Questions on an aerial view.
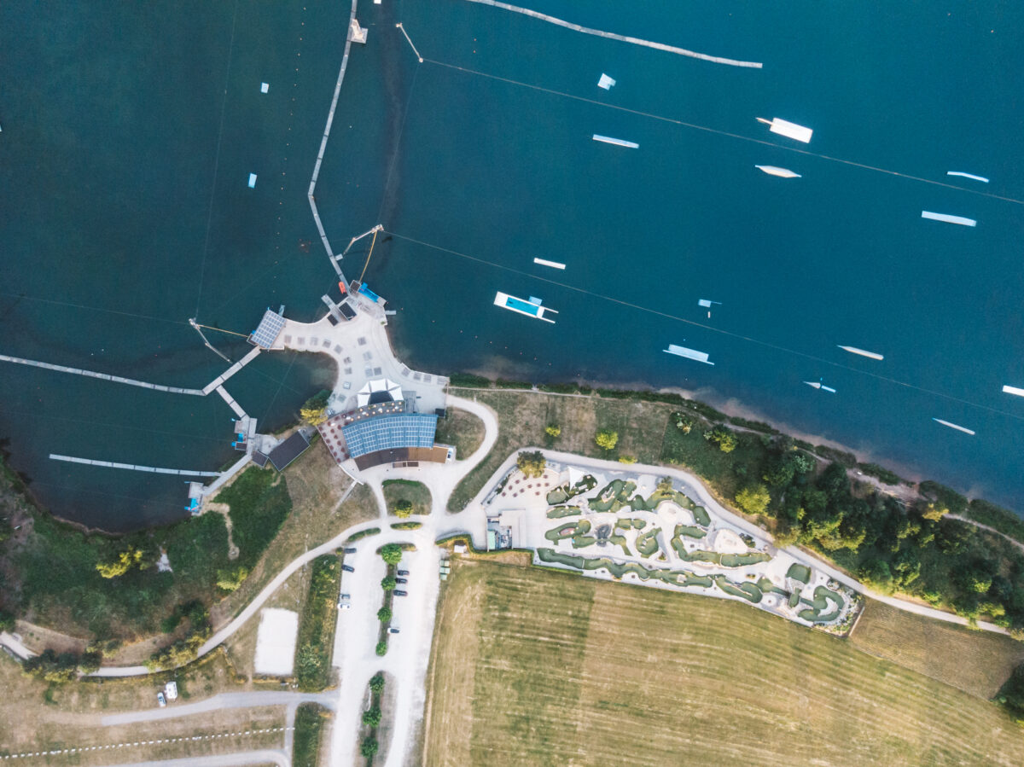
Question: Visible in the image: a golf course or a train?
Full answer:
Of the two, only a golf course appears.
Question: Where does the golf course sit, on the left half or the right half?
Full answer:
You can find the golf course on the right side of the picture.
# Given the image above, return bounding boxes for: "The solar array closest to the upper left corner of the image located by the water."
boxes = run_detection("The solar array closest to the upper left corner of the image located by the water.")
[251,311,285,348]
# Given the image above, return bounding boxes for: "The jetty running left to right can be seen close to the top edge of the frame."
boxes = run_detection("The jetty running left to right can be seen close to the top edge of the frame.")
[457,0,761,68]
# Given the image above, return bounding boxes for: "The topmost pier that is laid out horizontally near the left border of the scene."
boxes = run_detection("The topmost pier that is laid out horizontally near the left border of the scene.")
[0,354,205,396]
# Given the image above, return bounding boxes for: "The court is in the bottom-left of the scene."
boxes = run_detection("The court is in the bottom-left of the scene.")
[255,609,298,675]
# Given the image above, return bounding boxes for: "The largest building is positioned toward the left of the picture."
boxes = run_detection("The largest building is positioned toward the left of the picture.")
[342,413,449,471]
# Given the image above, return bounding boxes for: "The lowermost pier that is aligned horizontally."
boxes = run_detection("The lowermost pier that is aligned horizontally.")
[50,454,220,477]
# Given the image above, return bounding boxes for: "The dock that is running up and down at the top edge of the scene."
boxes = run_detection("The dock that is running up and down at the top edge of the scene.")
[309,0,357,295]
